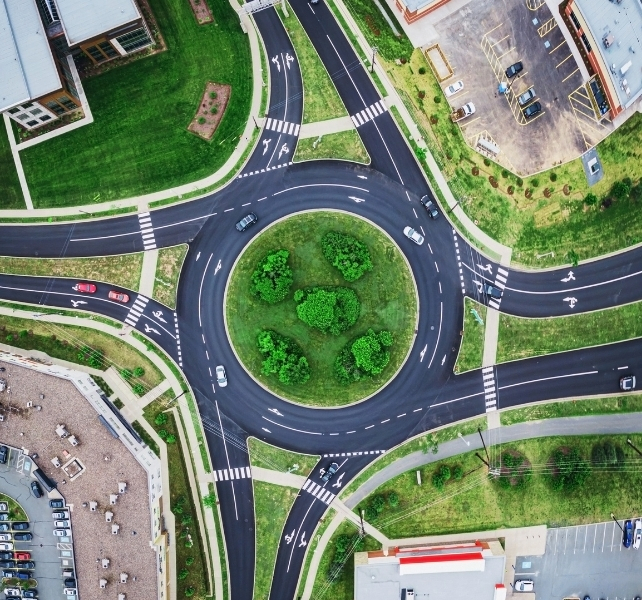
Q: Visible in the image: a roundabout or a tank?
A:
roundabout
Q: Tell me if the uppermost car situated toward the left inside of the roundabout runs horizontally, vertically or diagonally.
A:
diagonally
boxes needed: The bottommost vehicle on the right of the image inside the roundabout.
[403,225,425,245]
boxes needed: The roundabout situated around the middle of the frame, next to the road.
[180,163,463,454]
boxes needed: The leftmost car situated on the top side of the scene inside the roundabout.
[235,212,258,232]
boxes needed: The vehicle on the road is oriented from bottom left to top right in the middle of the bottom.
[321,460,340,483]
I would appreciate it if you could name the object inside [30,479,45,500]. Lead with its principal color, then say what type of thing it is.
black car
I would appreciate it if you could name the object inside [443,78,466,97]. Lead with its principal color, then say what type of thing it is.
white car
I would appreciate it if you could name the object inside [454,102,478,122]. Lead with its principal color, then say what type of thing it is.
white vehicle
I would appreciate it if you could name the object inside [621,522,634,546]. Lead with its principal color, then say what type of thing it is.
blue vehicle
